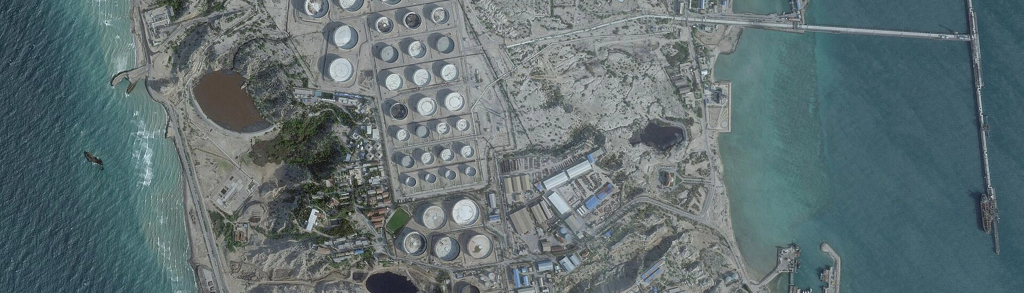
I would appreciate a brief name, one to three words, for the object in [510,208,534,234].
building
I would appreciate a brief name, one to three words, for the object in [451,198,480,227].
storage tank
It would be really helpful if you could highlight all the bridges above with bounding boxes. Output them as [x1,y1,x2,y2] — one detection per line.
[794,23,972,40]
